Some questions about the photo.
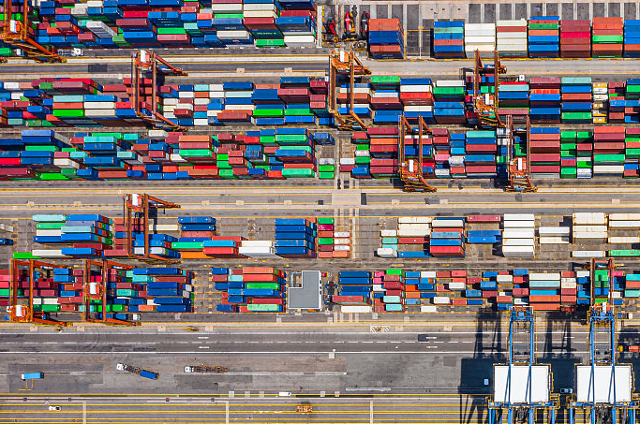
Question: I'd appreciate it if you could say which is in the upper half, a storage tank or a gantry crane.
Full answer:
It is a gantry crane that can be seen in the upper half.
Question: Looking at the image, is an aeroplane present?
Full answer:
No, this view has no aeroplane in it.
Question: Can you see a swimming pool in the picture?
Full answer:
No, the picture doesn't show any swimming pool.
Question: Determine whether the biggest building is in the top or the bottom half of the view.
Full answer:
The bottom half of the photo is where the biggest building is.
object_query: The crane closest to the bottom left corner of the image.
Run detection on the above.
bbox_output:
[9,257,78,324]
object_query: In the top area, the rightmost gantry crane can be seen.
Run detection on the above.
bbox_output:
[503,112,539,190]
